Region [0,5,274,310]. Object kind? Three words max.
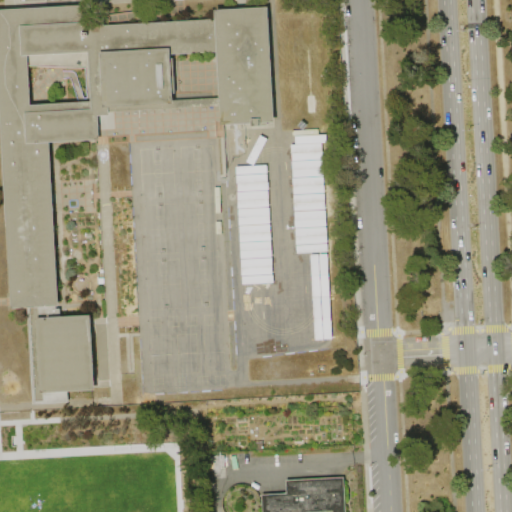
building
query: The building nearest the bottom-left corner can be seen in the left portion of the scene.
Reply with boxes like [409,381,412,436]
[34,314,94,392]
